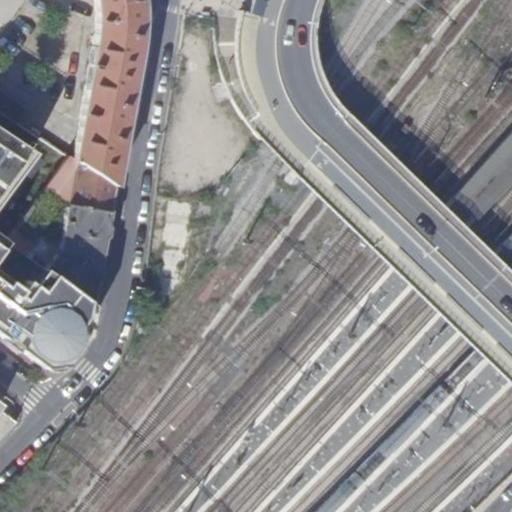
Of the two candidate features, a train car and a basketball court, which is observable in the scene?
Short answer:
train car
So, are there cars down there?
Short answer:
Yes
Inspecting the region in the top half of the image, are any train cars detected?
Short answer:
No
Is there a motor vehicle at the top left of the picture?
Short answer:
Yes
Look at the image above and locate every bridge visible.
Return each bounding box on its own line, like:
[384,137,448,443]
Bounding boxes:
[235,0,512,382]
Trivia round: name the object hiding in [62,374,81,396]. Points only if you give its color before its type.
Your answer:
white car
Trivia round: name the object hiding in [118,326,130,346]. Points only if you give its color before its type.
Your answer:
white vehicle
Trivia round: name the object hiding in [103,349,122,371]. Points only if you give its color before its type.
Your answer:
white car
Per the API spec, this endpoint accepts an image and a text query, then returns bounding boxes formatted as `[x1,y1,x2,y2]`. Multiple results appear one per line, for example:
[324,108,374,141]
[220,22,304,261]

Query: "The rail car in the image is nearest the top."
[446,348,486,389]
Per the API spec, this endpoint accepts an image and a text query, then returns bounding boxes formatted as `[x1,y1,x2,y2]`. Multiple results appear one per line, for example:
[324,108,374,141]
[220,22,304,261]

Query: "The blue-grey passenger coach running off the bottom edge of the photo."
[314,471,364,512]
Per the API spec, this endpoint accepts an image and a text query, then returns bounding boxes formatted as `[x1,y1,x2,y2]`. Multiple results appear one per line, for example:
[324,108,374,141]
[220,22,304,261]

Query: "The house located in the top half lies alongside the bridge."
[76,0,150,188]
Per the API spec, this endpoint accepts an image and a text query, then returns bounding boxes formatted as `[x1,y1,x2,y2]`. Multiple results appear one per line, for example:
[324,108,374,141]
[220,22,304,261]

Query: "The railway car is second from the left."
[357,384,451,479]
